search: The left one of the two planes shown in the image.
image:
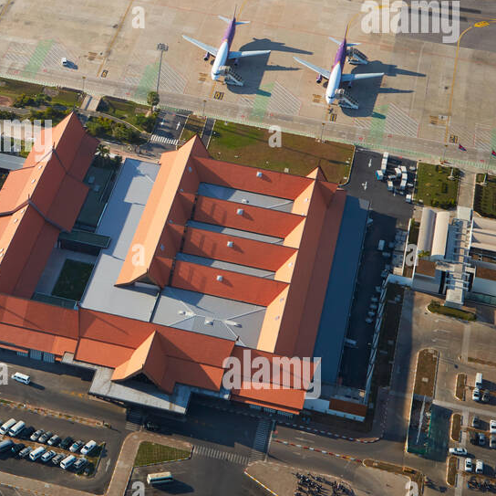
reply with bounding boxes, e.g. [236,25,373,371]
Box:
[181,16,269,80]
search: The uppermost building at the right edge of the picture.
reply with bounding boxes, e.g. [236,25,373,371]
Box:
[410,207,496,314]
